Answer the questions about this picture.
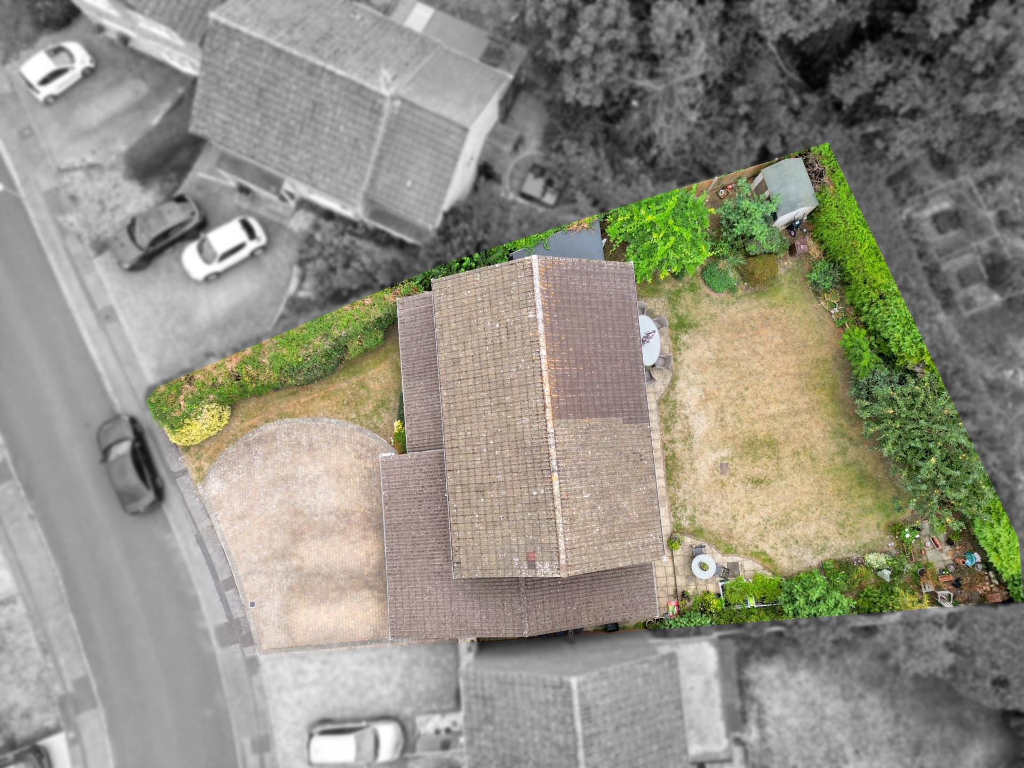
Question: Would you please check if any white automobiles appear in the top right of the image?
No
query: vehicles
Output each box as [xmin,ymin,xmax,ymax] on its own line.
[179,216,268,280]
[99,414,167,516]
[0,727,62,768]
[17,41,94,103]
[308,718,404,768]
[114,191,208,272]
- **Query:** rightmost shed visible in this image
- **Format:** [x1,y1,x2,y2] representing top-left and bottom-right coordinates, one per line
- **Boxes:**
[748,158,819,229]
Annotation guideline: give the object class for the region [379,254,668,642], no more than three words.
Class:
house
